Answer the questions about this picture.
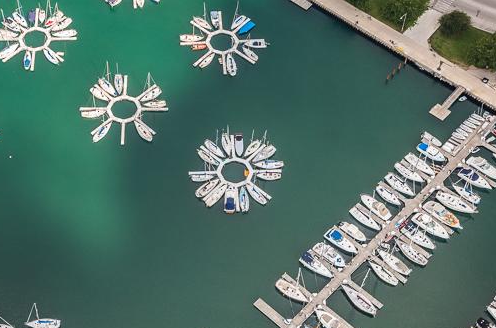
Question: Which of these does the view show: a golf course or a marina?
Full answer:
This image shows a marina.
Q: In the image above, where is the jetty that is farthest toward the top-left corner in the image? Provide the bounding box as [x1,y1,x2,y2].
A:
[0,8,78,72]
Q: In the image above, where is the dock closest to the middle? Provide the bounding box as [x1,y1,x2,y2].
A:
[189,135,282,212]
